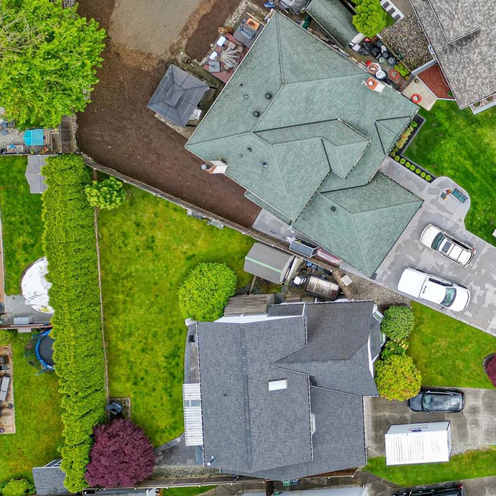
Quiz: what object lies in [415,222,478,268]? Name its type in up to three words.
car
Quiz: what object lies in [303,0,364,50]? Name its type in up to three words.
shed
